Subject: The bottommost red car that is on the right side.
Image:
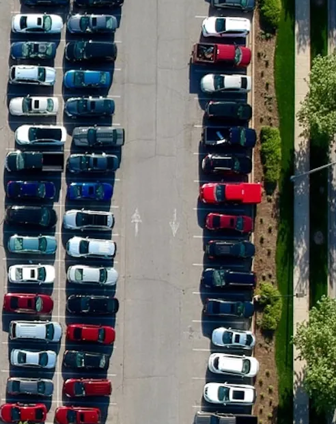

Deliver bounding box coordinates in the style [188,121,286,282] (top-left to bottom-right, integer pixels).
[205,211,252,234]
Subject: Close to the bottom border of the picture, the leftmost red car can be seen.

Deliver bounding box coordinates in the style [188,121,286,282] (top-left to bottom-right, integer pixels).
[0,402,46,424]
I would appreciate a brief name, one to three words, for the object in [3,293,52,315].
car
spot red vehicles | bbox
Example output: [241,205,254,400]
[66,324,114,346]
[63,377,111,399]
[205,211,252,234]
[189,41,251,66]
[198,180,263,205]
[53,405,99,424]
[0,402,46,424]
[3,293,52,315]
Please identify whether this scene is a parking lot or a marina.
parking lot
